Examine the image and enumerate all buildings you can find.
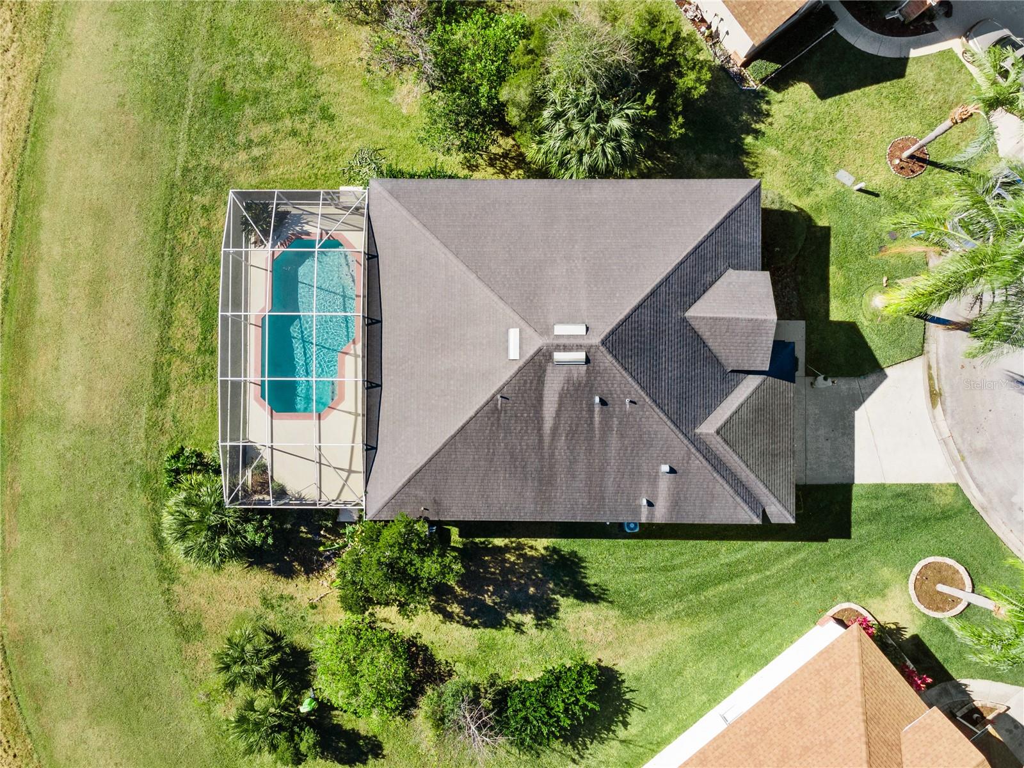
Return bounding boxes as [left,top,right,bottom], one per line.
[647,620,992,768]
[692,0,811,66]
[365,178,797,524]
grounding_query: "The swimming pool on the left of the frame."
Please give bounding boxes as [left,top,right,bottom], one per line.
[253,232,362,419]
